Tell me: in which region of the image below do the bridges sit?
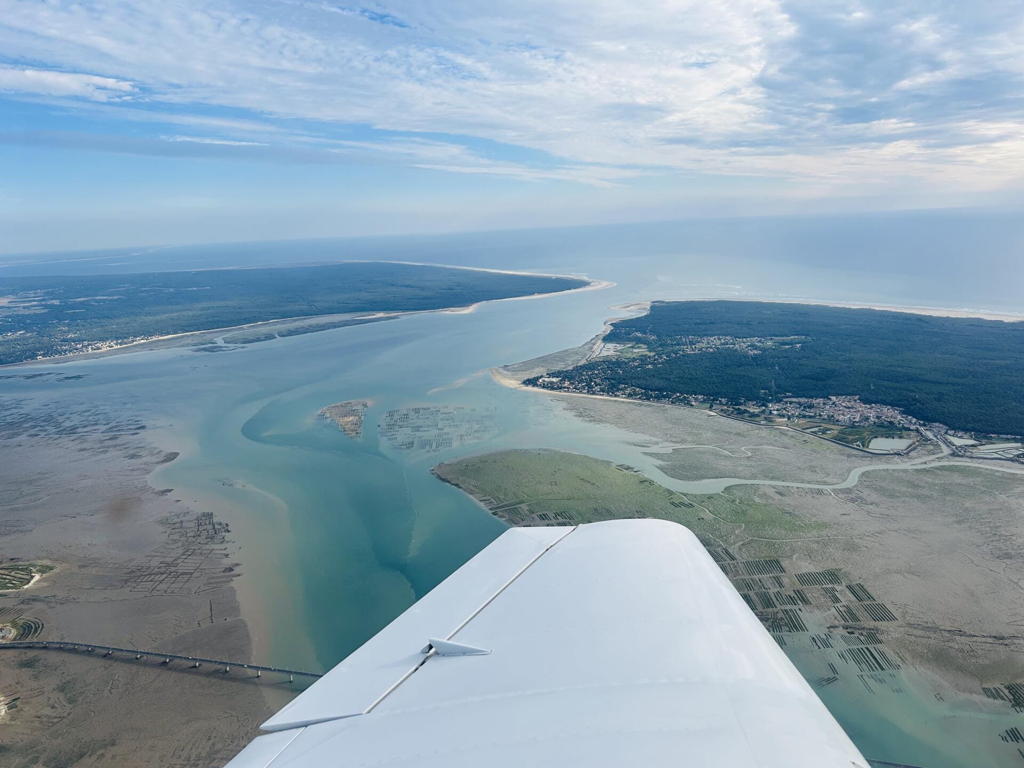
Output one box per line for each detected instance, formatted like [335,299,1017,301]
[0,640,326,682]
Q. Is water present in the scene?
Yes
